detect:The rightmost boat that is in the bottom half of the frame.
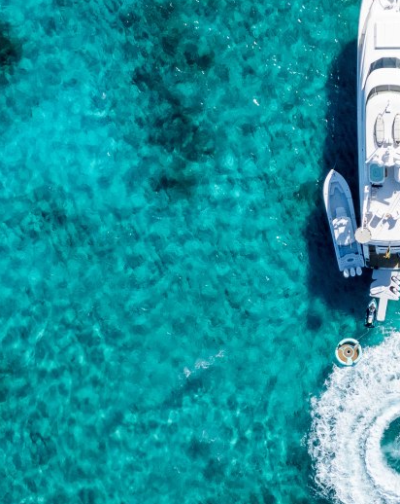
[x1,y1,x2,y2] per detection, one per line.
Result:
[365,301,377,326]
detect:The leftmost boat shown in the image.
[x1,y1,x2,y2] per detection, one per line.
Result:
[327,170,364,279]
